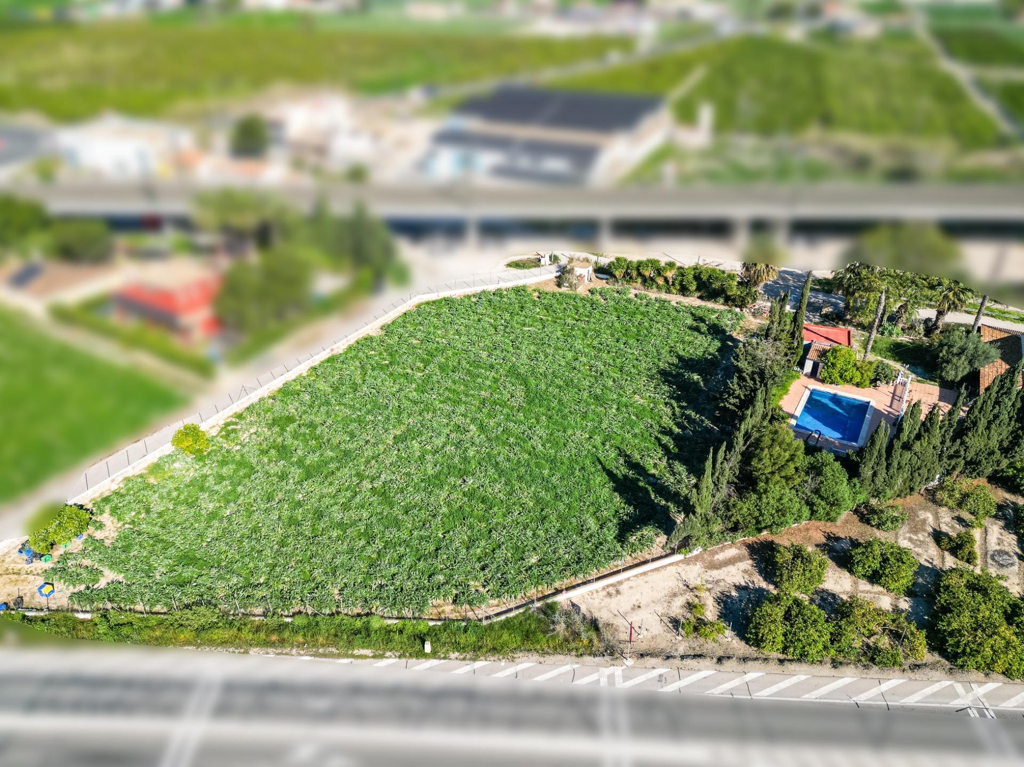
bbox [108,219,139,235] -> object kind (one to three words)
vehicle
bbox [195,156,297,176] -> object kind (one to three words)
house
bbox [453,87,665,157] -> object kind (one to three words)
building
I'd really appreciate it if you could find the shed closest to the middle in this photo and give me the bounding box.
[572,263,591,285]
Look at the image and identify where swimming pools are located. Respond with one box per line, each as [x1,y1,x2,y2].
[787,386,878,449]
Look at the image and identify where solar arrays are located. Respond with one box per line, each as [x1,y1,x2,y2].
[5,263,43,287]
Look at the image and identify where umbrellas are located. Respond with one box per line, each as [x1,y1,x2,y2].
[29,582,52,608]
